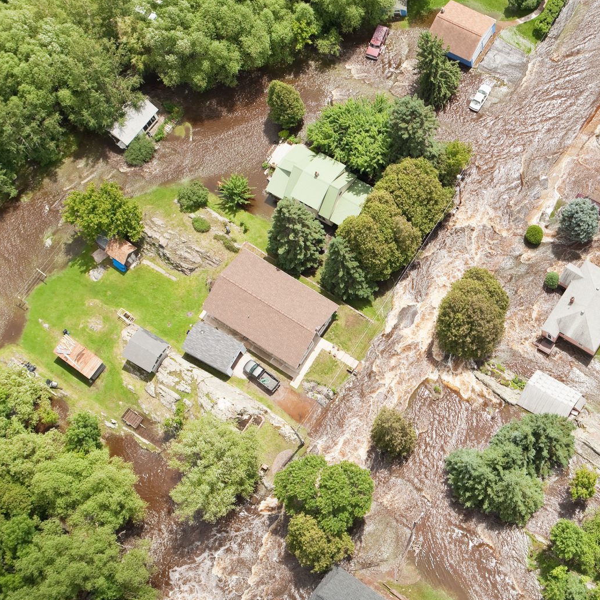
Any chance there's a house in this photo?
Yes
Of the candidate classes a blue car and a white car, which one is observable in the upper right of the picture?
white car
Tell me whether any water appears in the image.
Yes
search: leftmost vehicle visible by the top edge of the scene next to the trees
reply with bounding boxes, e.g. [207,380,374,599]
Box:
[364,23,390,61]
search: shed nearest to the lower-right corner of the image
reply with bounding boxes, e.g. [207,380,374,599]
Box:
[520,370,589,429]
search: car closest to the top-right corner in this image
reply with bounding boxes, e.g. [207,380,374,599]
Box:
[467,81,493,116]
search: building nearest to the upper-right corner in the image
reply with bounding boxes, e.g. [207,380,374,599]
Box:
[424,0,497,69]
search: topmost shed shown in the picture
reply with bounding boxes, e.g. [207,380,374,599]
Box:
[382,0,408,20]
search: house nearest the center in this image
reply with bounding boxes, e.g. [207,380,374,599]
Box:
[200,249,341,369]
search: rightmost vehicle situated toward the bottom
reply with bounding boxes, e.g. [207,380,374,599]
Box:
[243,359,281,395]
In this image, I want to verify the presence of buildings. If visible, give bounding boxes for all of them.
[107,98,168,149]
[119,327,170,374]
[520,370,589,429]
[53,335,108,382]
[250,134,371,232]
[309,570,383,600]
[382,0,408,20]
[521,256,600,360]
[424,0,497,69]
[200,249,341,369]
